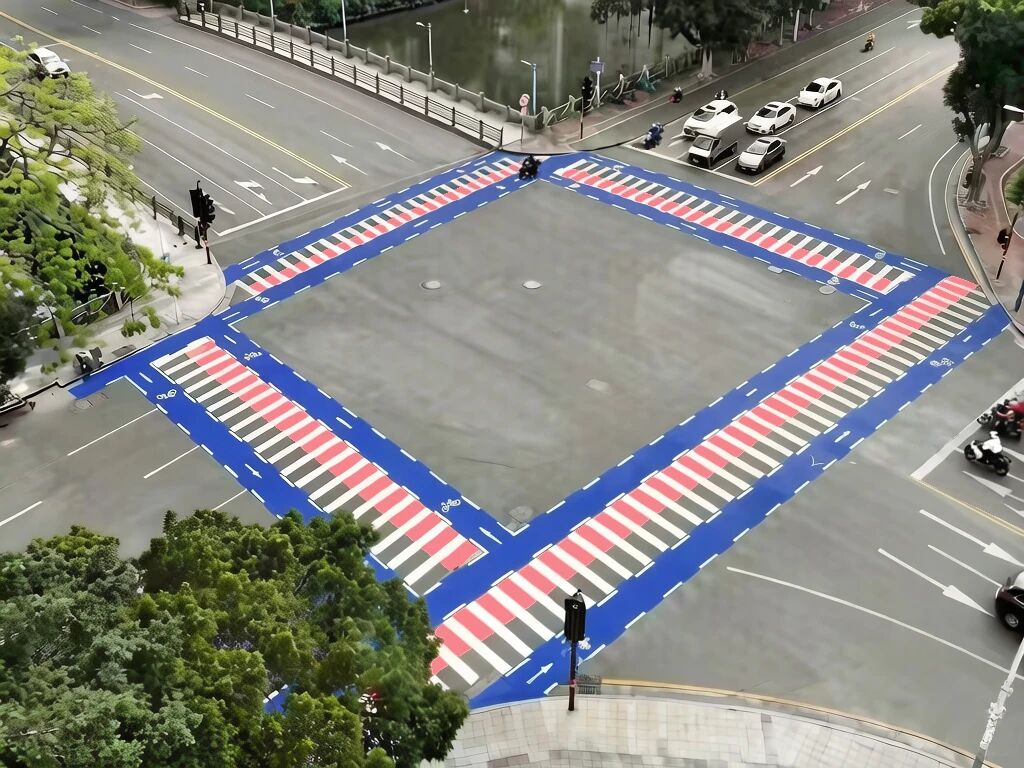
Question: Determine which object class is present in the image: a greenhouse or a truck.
truck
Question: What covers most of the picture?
paved ground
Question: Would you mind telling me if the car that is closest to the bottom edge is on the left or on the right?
right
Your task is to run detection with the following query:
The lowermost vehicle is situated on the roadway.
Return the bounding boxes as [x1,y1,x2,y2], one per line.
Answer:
[992,579,1024,626]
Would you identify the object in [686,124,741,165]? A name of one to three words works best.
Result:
truck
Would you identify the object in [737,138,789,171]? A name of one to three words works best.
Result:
car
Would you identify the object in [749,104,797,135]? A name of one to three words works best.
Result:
car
